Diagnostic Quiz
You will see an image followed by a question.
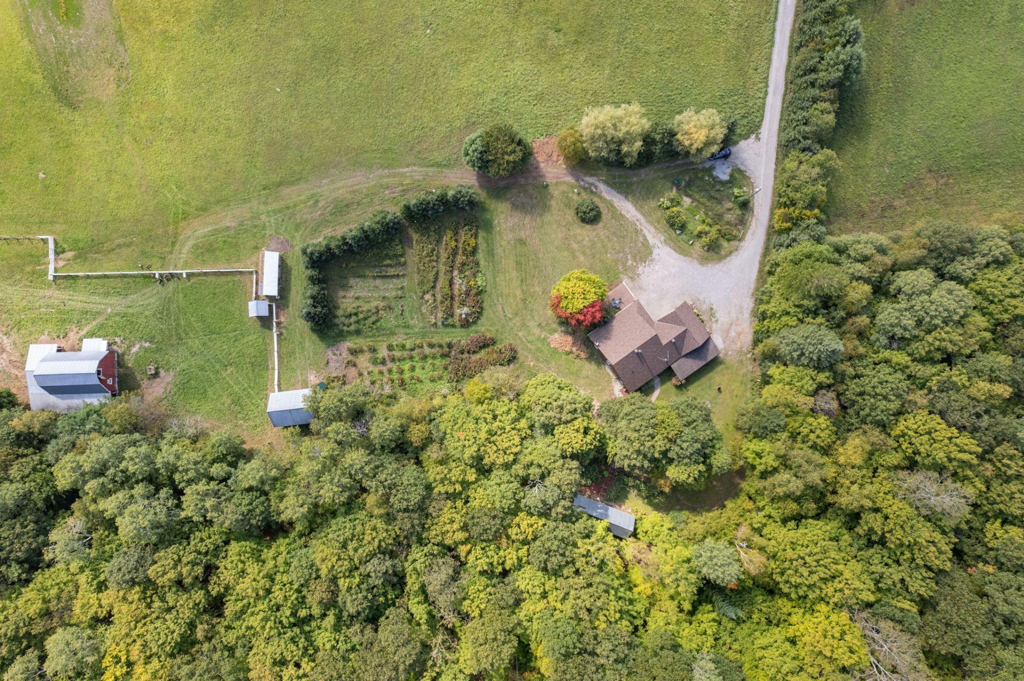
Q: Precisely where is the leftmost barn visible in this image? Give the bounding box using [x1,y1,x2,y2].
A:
[27,338,118,415]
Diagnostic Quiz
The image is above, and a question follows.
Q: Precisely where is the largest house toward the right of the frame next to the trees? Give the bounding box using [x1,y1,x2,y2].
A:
[587,298,720,392]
